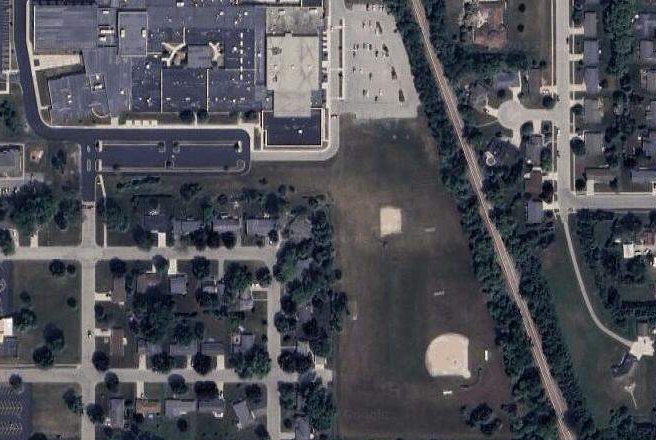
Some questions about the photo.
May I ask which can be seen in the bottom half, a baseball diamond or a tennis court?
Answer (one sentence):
Visible in the bottom half is a baseball diamond.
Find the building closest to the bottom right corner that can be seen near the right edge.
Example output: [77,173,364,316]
[609,353,636,377]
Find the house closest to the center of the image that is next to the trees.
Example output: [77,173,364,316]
[290,220,311,238]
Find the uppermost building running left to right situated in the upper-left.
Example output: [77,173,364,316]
[33,0,323,145]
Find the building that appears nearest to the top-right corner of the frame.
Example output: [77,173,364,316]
[636,14,656,38]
